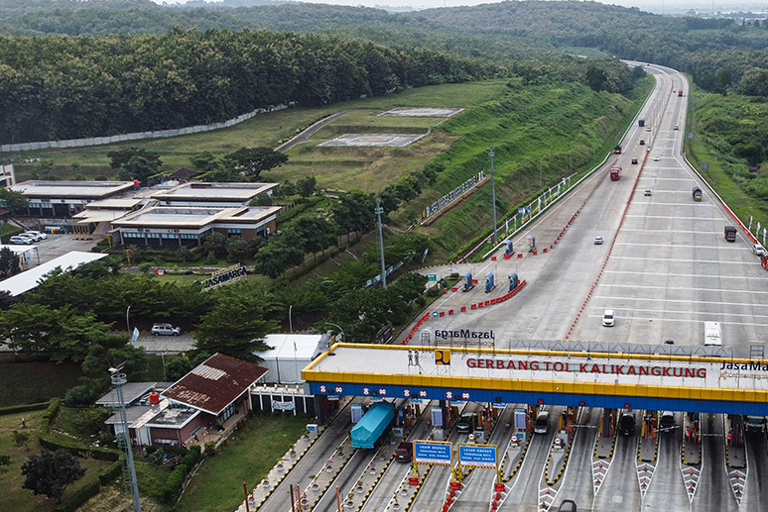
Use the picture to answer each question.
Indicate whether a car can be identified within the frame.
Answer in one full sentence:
Yes, looking at the shot, I can spot a car.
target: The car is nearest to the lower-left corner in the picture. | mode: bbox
[149,323,180,337]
